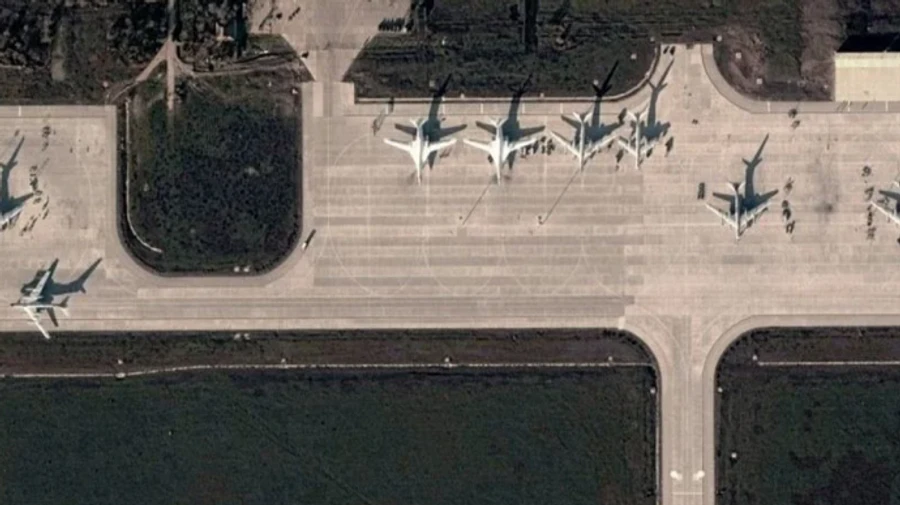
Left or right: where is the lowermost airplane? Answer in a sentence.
The lowermost airplane sits on the left side.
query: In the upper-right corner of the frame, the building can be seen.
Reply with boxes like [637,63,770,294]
[836,52,900,100]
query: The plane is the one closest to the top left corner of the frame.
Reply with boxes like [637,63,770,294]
[0,202,26,227]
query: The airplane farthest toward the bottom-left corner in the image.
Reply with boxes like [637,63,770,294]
[11,271,70,337]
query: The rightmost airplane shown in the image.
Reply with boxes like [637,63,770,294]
[873,201,900,227]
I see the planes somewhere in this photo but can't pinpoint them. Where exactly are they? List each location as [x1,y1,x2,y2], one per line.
[549,112,615,174]
[11,271,70,337]
[873,201,900,227]
[383,119,455,186]
[618,108,658,169]
[462,118,535,184]
[0,202,26,227]
[706,183,769,240]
